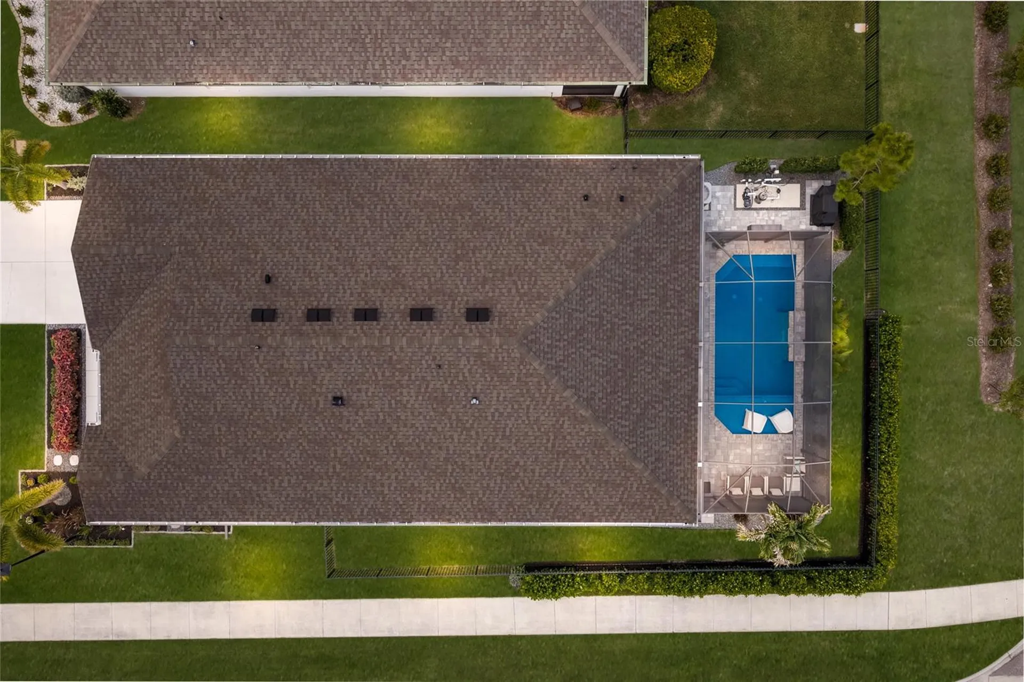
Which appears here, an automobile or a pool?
pool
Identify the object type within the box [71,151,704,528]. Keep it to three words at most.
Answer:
house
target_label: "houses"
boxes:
[71,151,704,528]
[44,0,651,99]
